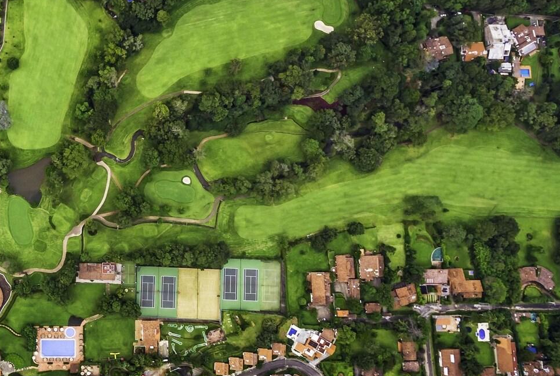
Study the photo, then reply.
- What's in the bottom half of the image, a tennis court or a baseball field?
tennis court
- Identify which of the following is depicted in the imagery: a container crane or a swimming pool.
swimming pool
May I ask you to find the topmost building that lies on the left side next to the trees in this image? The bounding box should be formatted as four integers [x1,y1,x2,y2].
[75,255,121,285]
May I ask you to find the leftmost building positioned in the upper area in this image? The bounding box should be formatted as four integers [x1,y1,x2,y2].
[423,36,454,60]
